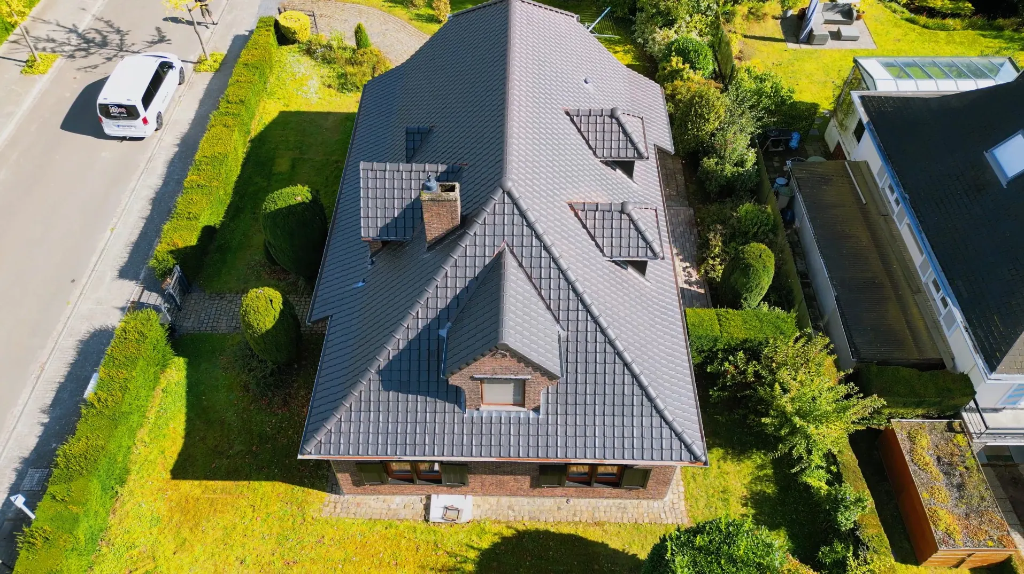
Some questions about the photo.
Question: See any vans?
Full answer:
Yes, looking at the shot, I can spot a van.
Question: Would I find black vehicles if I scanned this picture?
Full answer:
No, there's no black vehicle here.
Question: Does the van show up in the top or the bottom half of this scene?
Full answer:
You can find the van in the top half.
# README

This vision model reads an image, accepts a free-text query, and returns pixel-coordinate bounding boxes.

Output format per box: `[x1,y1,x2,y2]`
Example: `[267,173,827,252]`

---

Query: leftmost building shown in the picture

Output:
[292,0,714,508]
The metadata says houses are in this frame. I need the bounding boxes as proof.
[820,64,1024,459]
[292,0,714,508]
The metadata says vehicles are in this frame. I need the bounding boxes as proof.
[91,57,185,146]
